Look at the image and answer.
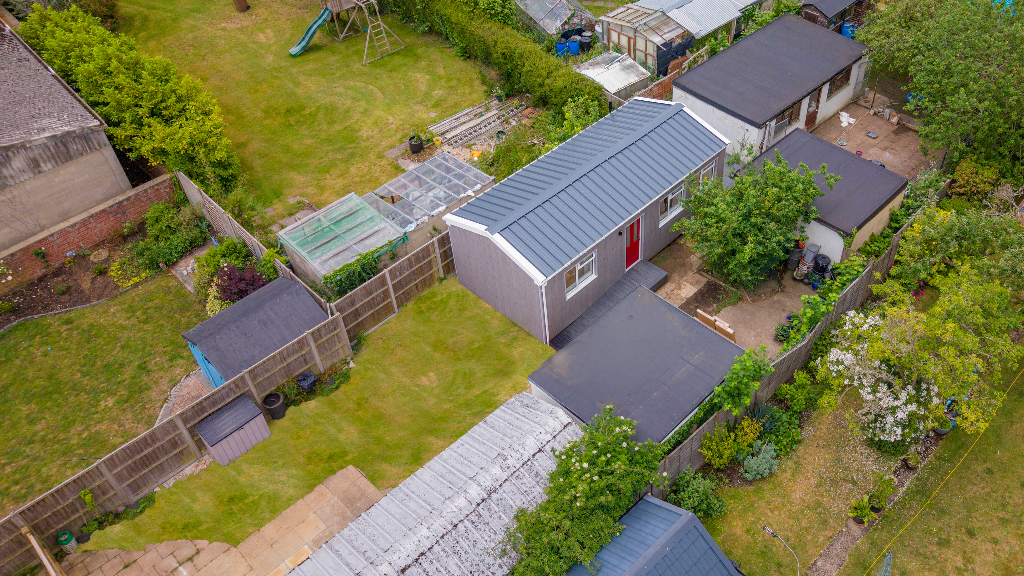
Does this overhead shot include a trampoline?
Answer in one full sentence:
No, there is no trampoline in the image.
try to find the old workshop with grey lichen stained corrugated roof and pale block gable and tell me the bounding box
[0,32,134,249]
